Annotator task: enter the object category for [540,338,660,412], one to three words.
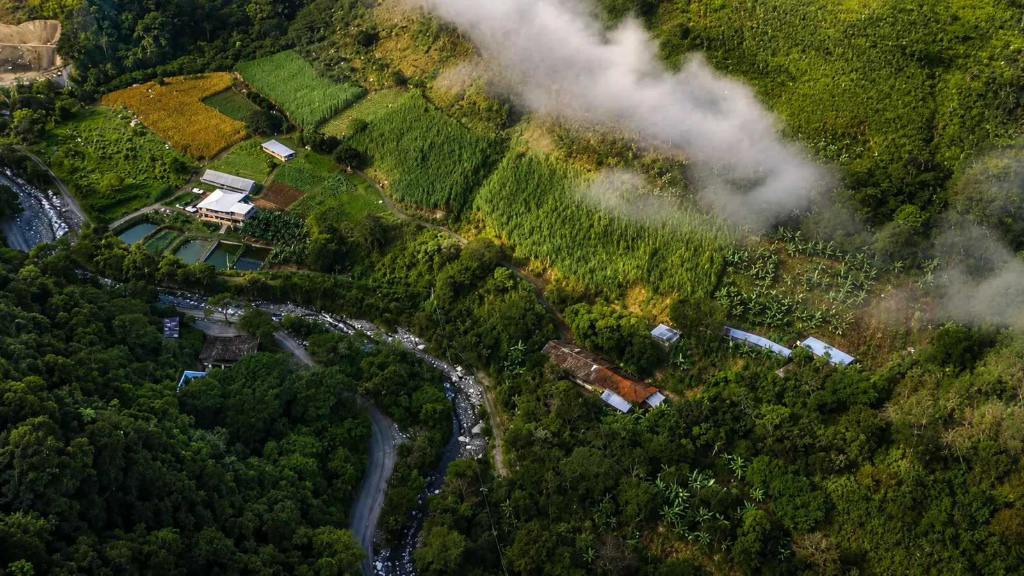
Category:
house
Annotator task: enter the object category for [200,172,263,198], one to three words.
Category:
shed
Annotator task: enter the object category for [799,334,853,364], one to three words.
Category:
shed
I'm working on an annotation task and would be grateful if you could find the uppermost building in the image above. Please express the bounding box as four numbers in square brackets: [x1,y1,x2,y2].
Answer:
[260,140,299,163]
